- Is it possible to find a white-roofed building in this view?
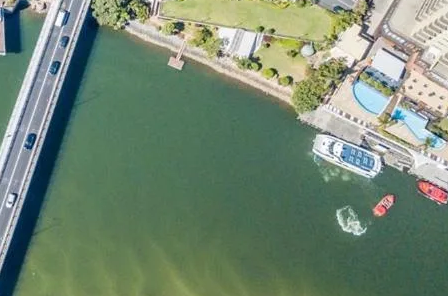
Yes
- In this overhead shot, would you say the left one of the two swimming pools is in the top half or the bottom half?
top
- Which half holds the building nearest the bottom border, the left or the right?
right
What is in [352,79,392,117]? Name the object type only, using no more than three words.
swimming pool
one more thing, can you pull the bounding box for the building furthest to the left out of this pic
[217,28,255,60]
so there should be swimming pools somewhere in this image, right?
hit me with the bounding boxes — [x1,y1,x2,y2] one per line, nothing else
[390,106,447,152]
[352,79,392,117]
